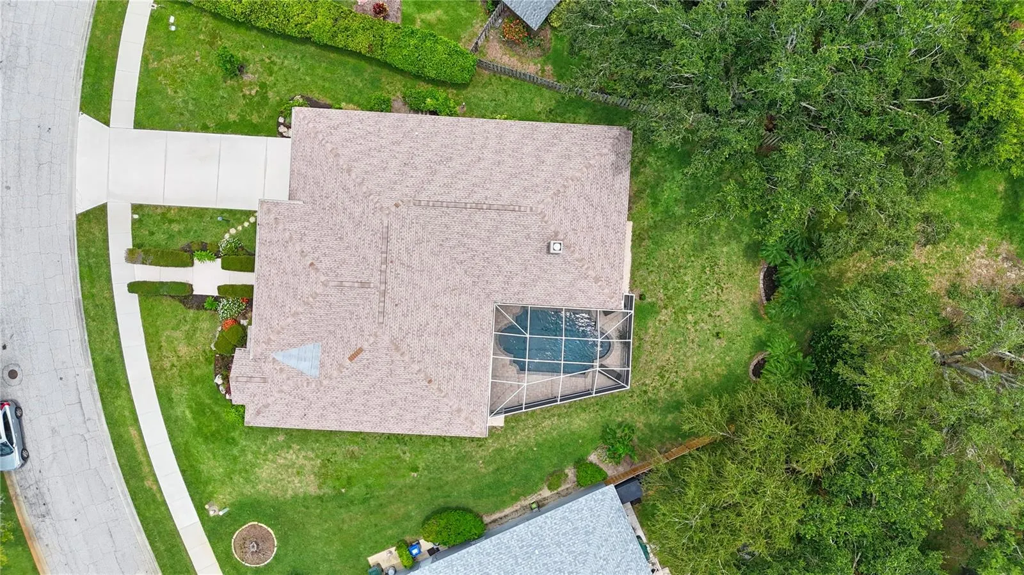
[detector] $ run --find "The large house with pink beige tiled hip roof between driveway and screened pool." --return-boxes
[229,105,632,439]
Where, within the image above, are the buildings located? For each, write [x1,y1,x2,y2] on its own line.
[229,105,632,439]
[497,0,562,36]
[394,479,653,575]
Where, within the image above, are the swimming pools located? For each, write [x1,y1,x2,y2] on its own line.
[494,306,616,379]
